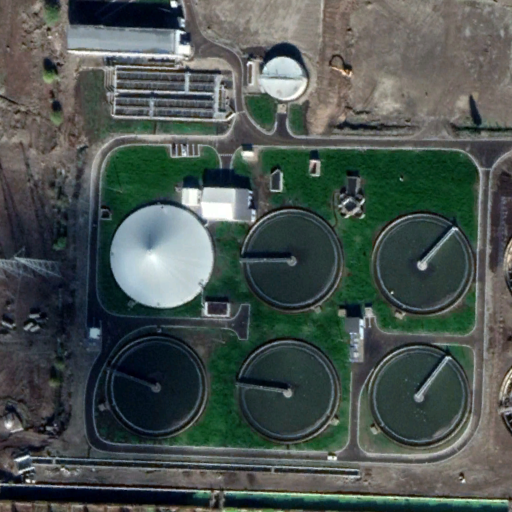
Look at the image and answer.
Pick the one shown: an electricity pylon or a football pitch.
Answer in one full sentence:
I can see an electricity pylon in this picture.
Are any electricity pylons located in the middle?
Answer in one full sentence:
No, in the middle there is no electricity pylon.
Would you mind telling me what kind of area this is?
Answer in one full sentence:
The area seen from above is an industrial area.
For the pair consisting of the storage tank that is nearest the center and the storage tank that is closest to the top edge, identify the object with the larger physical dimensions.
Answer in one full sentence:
The larger object is the storage tank that is nearest the center, with the storage tank that is closest to the top edge being the smaller of the pair.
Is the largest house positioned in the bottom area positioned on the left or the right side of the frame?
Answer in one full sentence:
The largest house positioned in the bottom area appears in the right half of the scene.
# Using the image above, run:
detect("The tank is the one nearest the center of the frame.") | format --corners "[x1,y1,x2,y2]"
[242,209,345,311]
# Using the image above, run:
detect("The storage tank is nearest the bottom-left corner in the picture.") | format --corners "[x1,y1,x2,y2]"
[105,337,208,439]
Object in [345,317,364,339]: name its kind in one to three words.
house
